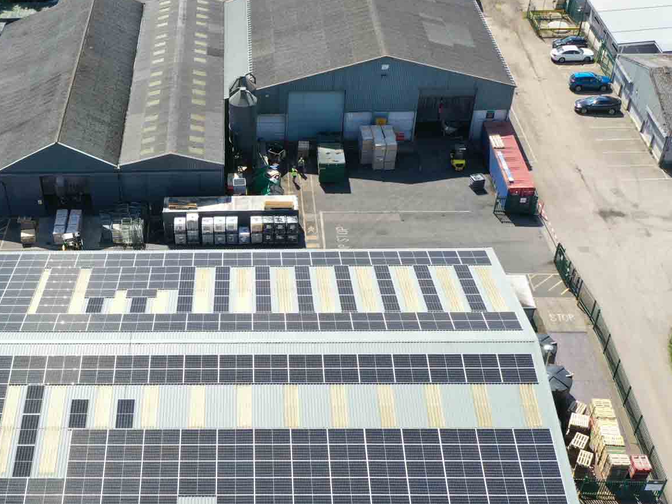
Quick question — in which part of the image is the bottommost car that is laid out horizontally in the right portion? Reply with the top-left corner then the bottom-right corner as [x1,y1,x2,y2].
[576,96,624,115]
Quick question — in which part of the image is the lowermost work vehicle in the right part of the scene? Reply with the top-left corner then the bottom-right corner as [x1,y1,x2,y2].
[451,141,466,168]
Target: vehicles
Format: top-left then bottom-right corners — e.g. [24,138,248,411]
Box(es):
[451,141,466,168]
[576,96,624,115]
[552,45,593,62]
[569,72,612,92]
[553,30,591,47]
